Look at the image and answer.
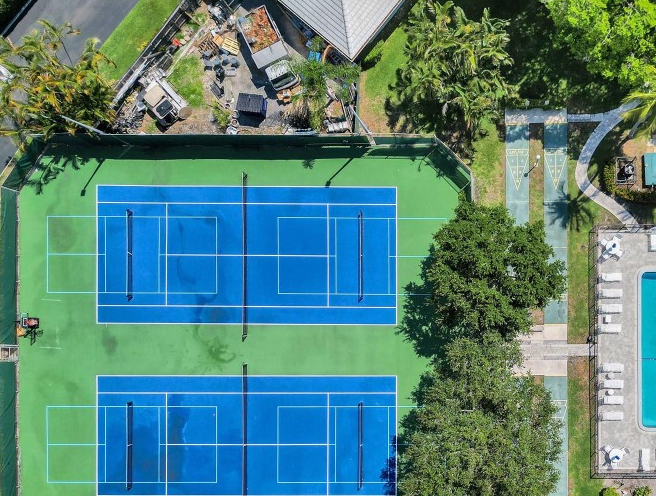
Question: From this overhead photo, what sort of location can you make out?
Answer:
sports ground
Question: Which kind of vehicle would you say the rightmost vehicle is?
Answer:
truck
